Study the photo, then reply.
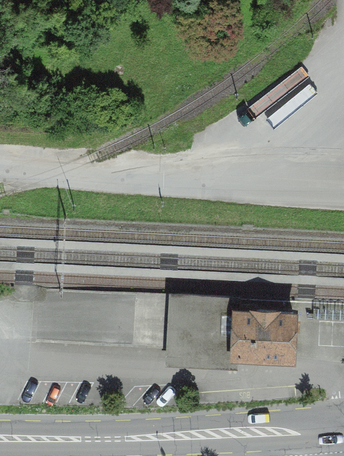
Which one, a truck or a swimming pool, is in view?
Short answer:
truck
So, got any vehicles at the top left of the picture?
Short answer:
No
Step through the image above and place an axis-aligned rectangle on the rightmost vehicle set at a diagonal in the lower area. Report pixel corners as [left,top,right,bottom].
[156,384,177,408]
